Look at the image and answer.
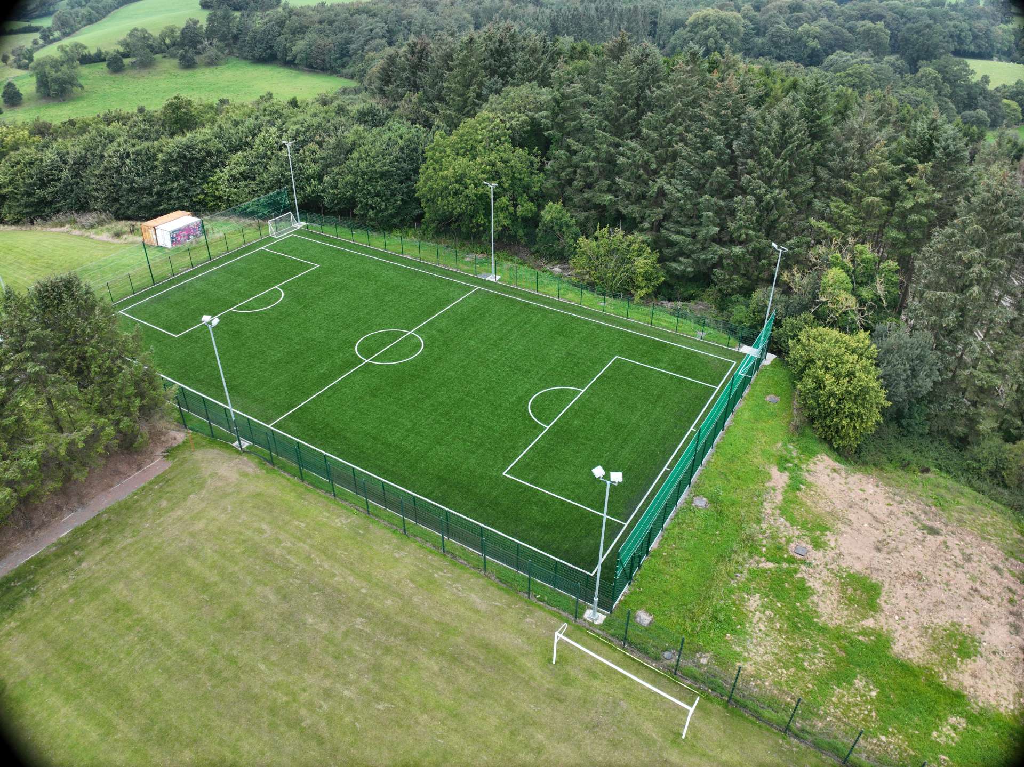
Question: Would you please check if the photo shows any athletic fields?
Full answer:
Yes, looking at the shot, I can spot an athletic field.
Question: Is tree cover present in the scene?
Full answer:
Yes, there's tree cover in this view.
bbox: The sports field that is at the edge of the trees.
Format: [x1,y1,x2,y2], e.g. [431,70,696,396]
[102,225,765,616]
